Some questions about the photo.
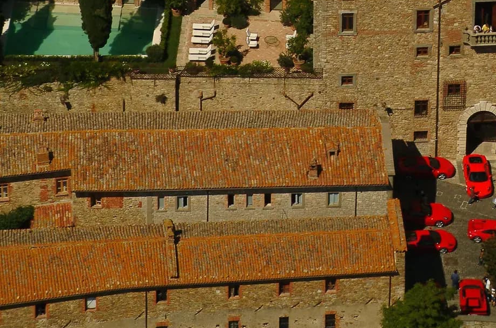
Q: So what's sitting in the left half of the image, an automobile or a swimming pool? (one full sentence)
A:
It is a swimming pool that can be seen in the left half of the image.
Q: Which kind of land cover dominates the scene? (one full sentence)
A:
Most of the picture is covered by buildings.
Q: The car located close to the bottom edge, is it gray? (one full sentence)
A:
No, the car located close to the bottom edge is red.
